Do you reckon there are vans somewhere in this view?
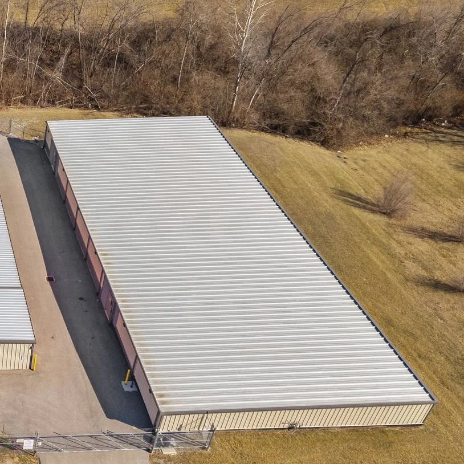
No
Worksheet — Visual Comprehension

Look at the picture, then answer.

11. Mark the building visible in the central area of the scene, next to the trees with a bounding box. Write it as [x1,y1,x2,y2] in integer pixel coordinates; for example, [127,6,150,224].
[46,118,437,436]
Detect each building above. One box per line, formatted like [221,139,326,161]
[0,194,36,369]
[46,118,437,436]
